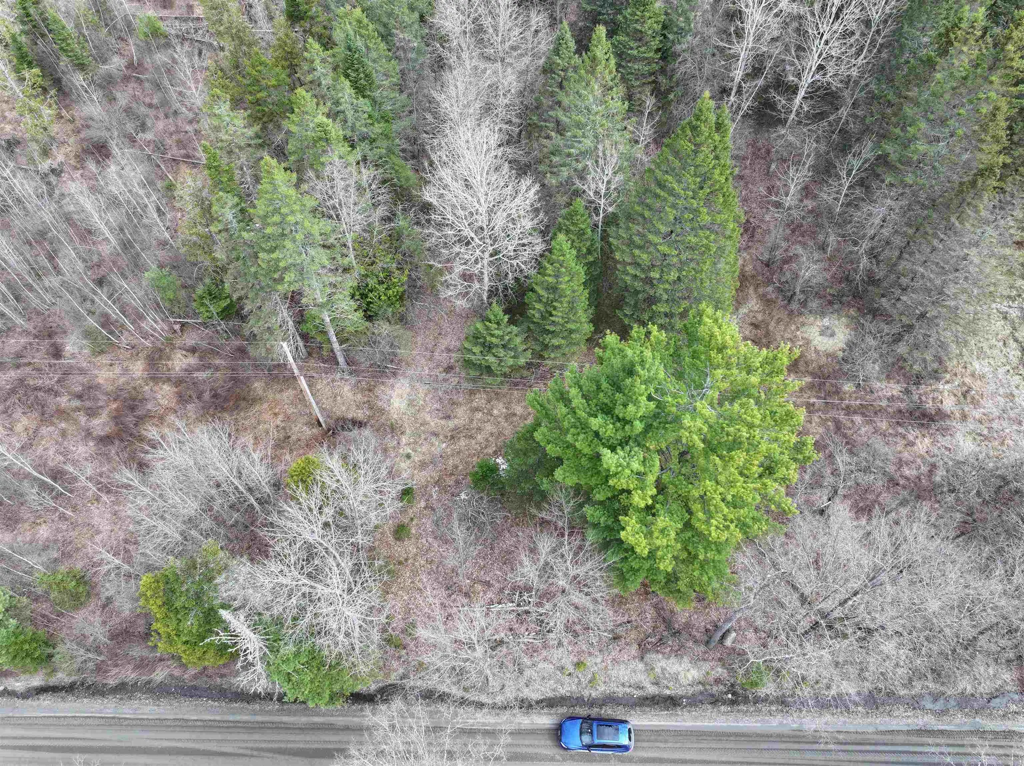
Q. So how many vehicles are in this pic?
1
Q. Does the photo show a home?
No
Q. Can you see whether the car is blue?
Yes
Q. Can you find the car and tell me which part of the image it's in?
bottom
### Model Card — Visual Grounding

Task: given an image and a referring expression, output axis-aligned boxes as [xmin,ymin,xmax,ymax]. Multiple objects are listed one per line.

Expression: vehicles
[558,718,634,759]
